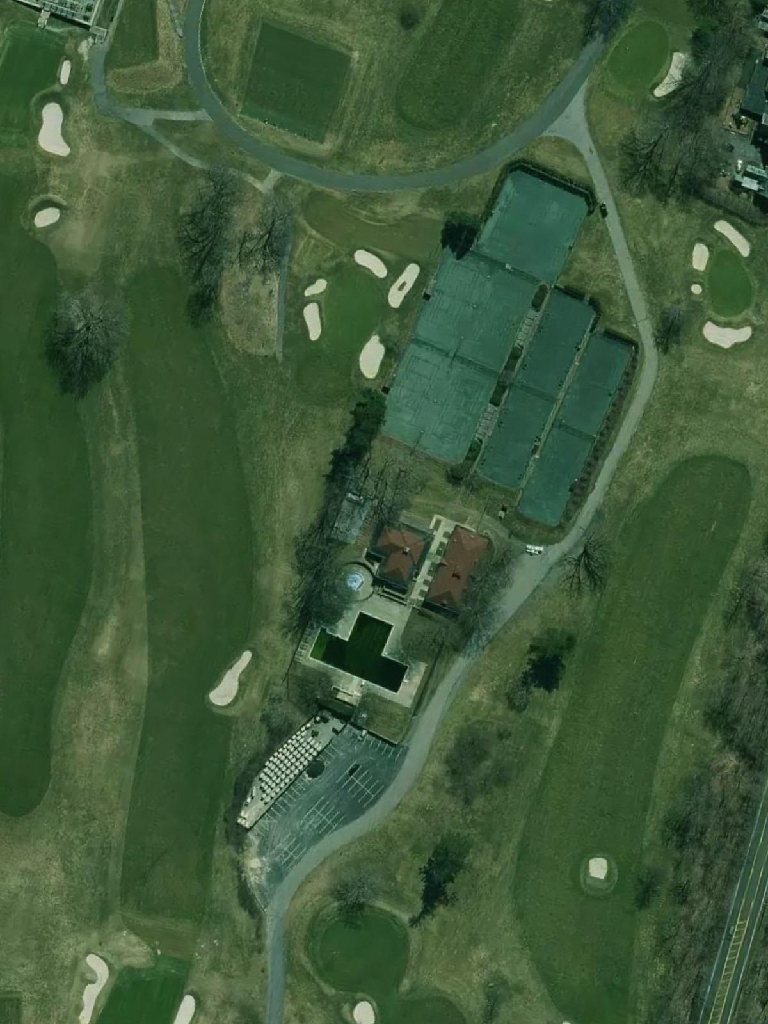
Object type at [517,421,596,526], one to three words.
tennis court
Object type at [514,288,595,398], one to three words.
tennis court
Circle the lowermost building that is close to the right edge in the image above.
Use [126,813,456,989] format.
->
[735,163,768,200]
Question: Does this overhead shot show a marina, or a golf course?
golf course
